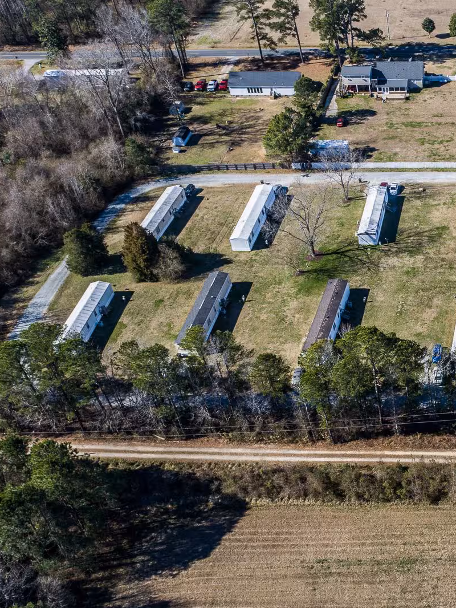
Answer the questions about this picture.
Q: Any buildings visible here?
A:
Yes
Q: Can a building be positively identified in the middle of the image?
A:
Yes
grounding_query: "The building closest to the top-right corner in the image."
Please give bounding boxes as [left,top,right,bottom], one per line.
[342,54,425,100]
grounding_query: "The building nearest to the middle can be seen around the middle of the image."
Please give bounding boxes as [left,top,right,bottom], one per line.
[173,270,230,351]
